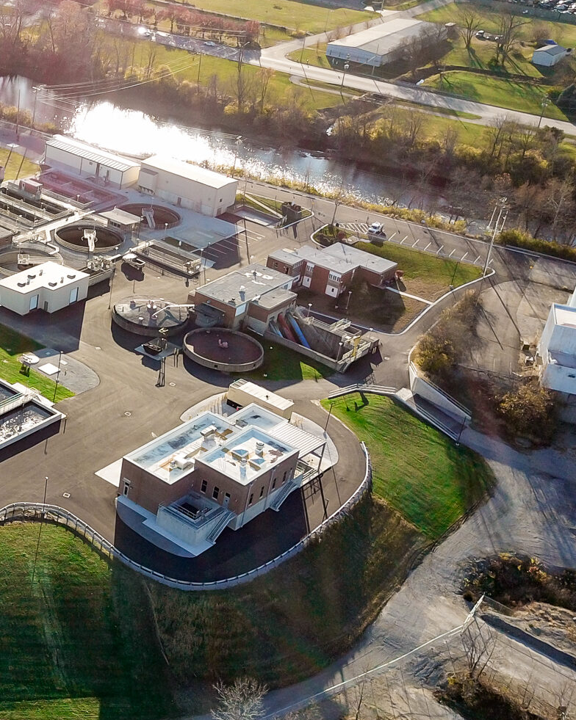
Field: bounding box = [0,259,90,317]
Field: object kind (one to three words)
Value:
building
